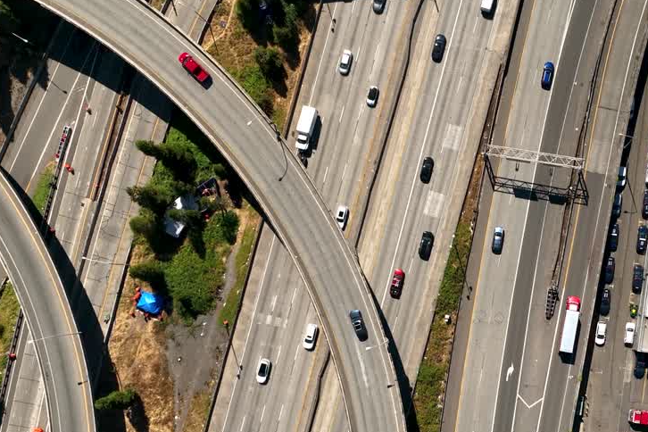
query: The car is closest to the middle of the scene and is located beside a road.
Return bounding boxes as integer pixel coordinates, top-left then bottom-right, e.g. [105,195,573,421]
[337,204,349,230]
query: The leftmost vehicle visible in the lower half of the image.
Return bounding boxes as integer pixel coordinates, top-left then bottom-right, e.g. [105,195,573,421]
[257,358,271,384]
